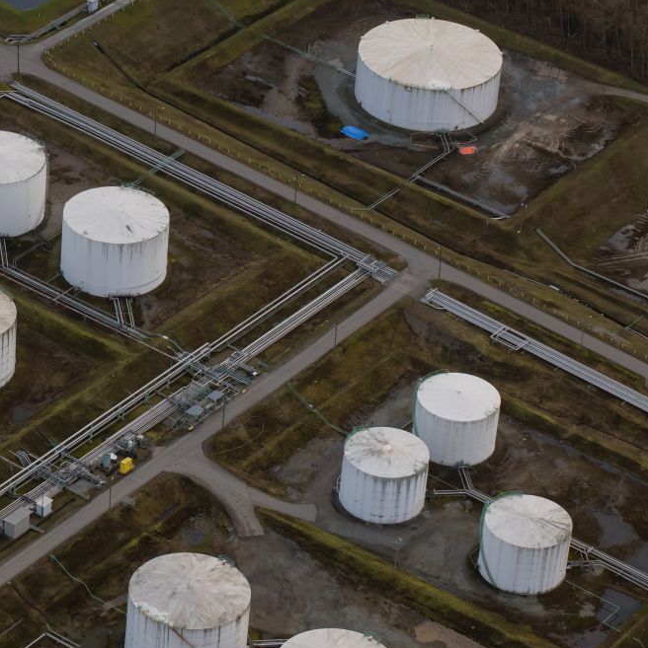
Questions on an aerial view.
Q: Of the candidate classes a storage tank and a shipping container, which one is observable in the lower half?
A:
storage tank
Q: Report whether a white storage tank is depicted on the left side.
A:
Yes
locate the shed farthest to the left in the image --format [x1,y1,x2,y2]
[2,507,31,540]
